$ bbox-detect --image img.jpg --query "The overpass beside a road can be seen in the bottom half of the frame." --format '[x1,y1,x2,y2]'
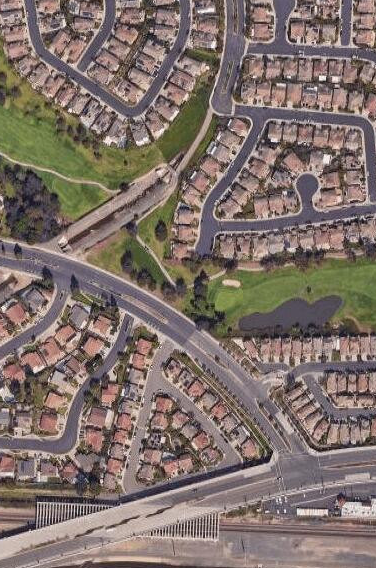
[0,460,276,568]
